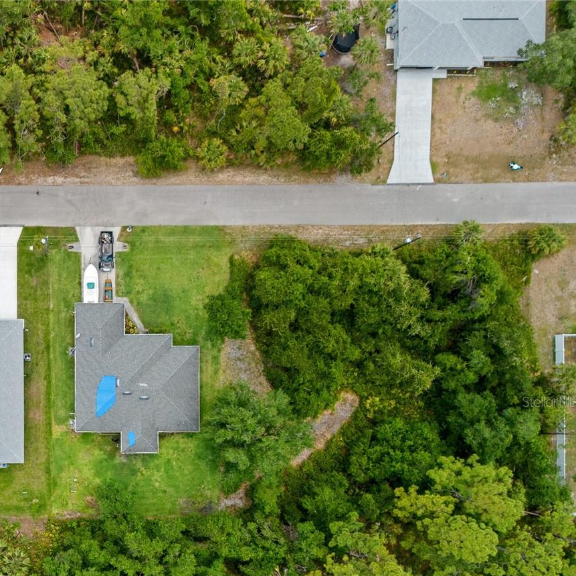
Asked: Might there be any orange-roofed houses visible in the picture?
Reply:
No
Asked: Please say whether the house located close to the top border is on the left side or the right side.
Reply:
right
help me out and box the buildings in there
[74,302,200,454]
[392,0,546,73]
[0,319,25,464]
